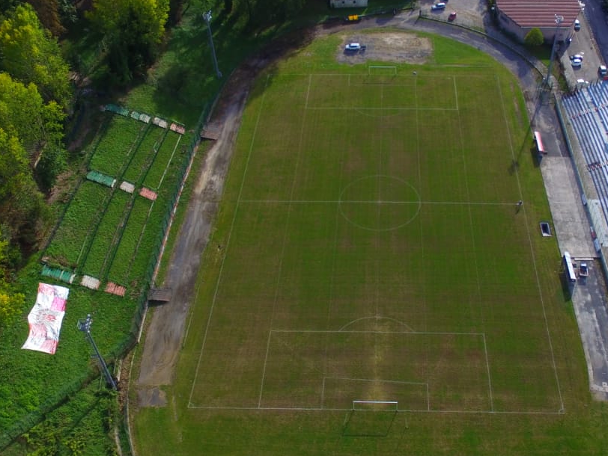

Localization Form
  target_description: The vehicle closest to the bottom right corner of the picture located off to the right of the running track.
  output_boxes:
[576,261,589,276]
